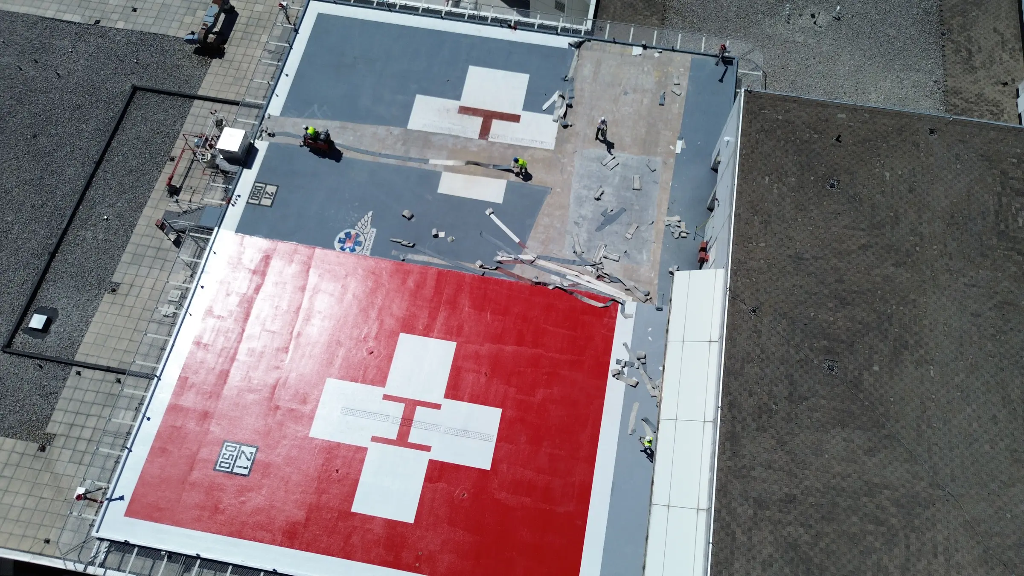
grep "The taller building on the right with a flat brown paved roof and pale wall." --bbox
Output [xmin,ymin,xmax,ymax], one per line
[640,89,1024,576]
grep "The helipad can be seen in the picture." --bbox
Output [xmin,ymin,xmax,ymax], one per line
[87,0,740,576]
